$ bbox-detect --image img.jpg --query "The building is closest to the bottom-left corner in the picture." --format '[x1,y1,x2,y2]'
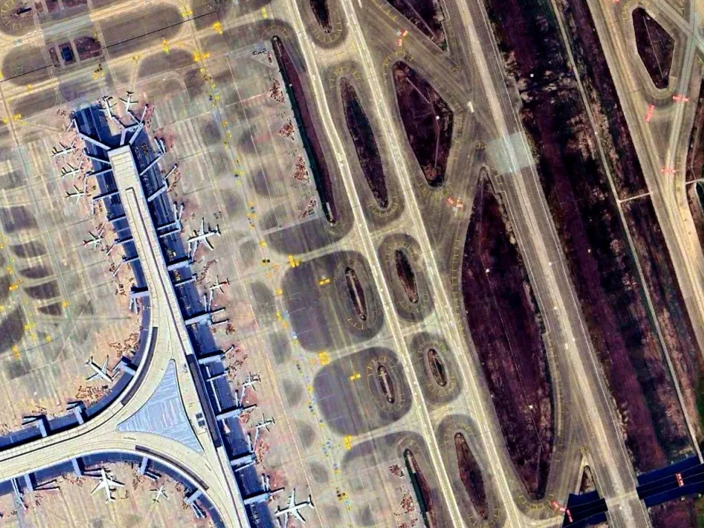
[0,145,251,528]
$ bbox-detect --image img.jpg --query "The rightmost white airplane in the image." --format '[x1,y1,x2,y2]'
[276,494,313,527]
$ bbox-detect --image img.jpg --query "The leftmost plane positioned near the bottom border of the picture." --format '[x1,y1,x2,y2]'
[91,469,124,505]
